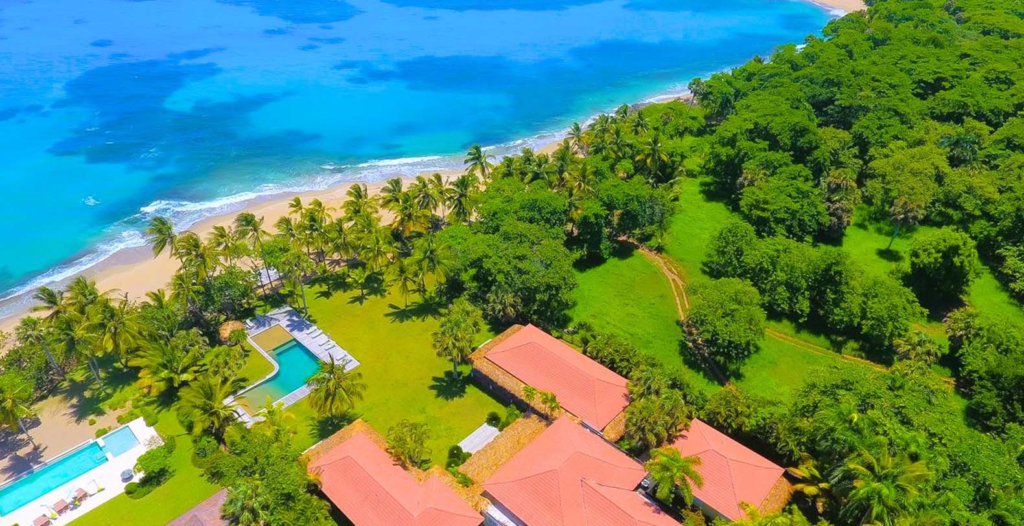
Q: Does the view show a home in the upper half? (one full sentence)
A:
No, I can find no home in the upper half.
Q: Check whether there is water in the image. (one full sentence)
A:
Yes, water shows up in the scene.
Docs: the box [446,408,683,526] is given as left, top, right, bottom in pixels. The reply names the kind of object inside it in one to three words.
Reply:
house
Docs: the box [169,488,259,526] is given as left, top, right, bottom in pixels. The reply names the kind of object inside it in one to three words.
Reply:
house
